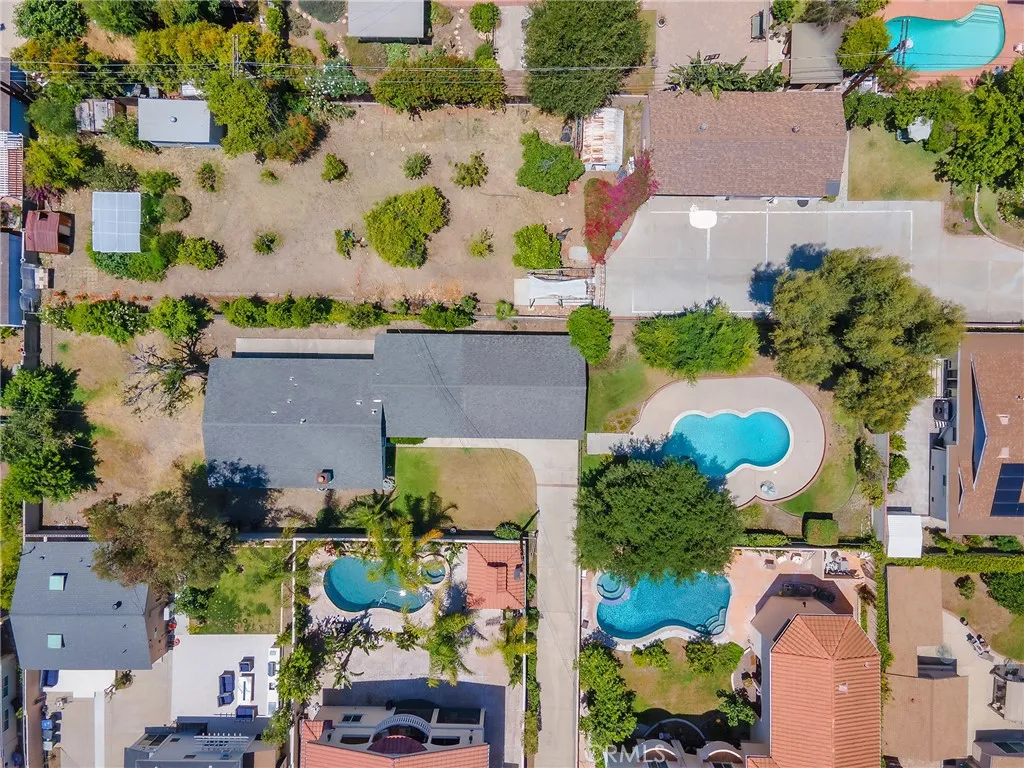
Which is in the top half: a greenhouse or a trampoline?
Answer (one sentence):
It is a greenhouse that can be seen in the top half.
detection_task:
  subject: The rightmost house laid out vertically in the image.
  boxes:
[931,333,1024,534]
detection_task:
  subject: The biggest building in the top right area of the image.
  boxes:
[649,92,848,205]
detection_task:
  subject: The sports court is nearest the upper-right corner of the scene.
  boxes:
[606,190,1024,322]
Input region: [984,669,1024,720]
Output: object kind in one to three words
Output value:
gazebo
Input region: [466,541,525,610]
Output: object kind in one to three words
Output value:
building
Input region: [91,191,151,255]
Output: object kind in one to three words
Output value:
greenhouse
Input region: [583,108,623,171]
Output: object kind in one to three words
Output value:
shed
